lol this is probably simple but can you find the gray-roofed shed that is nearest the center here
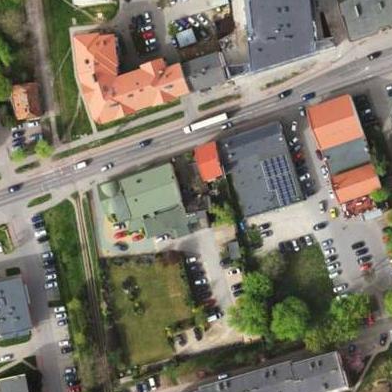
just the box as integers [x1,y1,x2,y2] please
[186,208,209,232]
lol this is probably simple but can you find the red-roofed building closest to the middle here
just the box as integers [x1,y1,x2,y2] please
[193,141,226,183]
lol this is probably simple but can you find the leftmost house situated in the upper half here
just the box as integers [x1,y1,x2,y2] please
[11,81,46,122]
